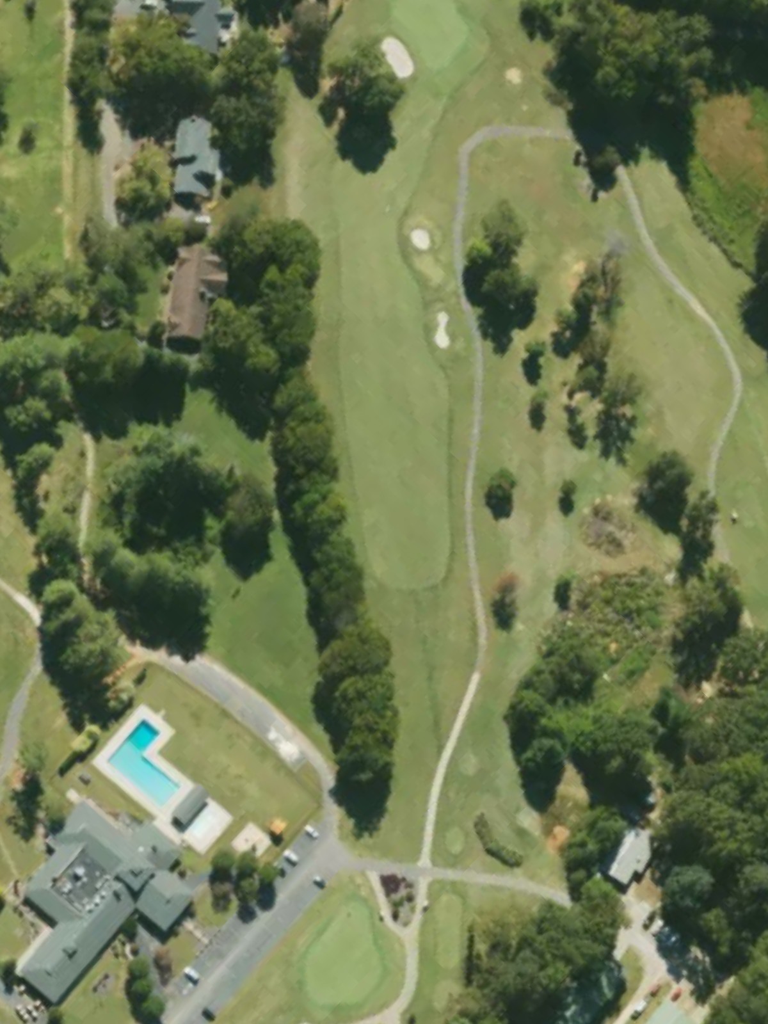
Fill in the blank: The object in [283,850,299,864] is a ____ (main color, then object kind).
white vehicle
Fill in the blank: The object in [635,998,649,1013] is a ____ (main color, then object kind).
white car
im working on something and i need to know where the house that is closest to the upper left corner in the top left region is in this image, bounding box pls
[165,0,233,50]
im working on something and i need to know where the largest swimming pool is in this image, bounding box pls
[93,705,233,854]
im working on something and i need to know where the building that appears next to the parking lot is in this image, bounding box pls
[18,802,193,1003]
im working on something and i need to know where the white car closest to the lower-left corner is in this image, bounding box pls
[184,968,199,981]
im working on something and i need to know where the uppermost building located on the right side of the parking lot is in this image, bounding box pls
[607,829,655,885]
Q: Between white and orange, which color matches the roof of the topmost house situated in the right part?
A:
white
